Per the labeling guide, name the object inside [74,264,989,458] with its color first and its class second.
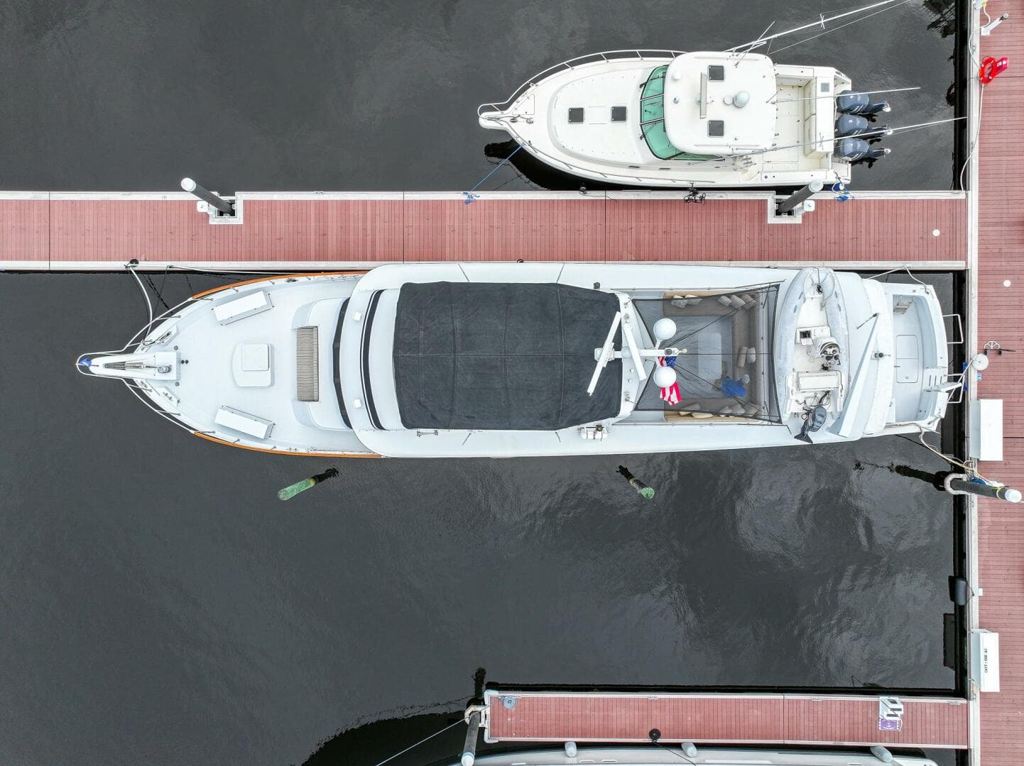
white boat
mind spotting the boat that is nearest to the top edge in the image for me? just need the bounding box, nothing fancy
[477,0,967,189]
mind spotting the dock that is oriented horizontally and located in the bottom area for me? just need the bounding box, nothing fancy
[484,687,968,750]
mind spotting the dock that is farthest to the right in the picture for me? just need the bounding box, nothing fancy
[962,0,1024,766]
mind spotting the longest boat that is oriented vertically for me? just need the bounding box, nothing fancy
[775,267,852,441]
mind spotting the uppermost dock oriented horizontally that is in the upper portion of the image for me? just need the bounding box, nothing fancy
[0,186,967,271]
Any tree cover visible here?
No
